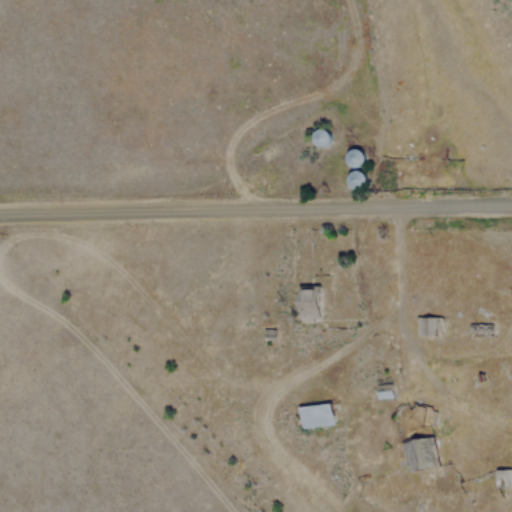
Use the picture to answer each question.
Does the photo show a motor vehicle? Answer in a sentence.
No, I can't see a single motor vehicle in this photo.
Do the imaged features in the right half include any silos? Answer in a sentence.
Yes, there is a silo in the right half.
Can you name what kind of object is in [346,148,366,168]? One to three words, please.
silo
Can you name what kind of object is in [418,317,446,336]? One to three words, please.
barn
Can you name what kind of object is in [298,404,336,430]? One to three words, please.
house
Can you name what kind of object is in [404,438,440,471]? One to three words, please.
barn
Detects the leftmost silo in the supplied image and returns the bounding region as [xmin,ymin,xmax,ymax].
[312,128,334,149]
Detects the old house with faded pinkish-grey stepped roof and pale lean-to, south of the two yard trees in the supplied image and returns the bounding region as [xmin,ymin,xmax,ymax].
[296,288,324,324]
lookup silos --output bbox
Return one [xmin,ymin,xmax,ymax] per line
[347,170,368,190]
[312,128,334,149]
[346,148,366,168]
